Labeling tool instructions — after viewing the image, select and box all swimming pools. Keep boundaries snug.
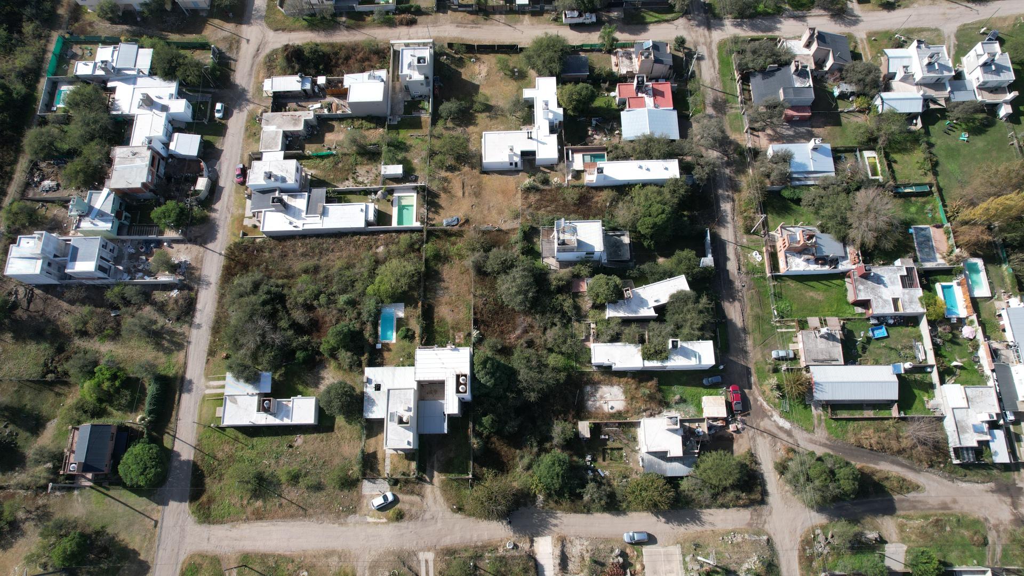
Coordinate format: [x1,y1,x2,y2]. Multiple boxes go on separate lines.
[574,152,607,170]
[935,278,971,318]
[377,303,404,343]
[862,151,883,182]
[911,225,947,262]
[392,189,417,226]
[868,325,887,338]
[964,258,991,297]
[53,83,85,108]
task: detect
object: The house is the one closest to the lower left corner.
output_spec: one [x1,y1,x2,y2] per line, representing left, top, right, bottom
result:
[64,425,136,474]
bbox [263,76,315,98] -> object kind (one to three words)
house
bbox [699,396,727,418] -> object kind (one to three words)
shed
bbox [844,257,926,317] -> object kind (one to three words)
house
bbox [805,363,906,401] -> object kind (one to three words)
barn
